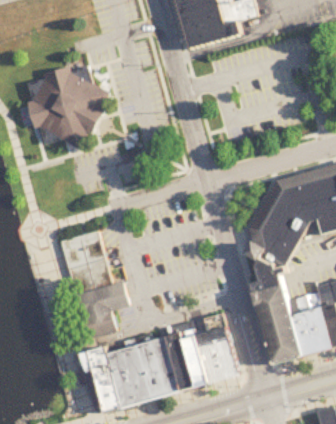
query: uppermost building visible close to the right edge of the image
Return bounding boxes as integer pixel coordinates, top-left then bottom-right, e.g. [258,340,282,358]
[250,163,336,270]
